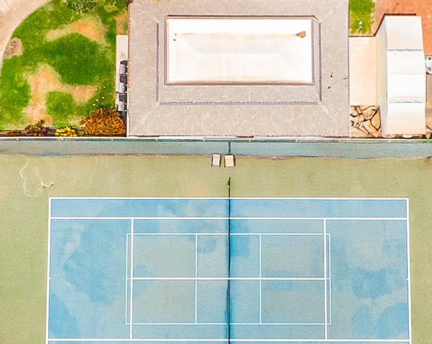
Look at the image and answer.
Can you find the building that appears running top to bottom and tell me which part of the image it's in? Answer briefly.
top right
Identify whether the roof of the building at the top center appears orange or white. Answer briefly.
white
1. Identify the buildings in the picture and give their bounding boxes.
[126,0,352,138]
[371,15,425,142]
